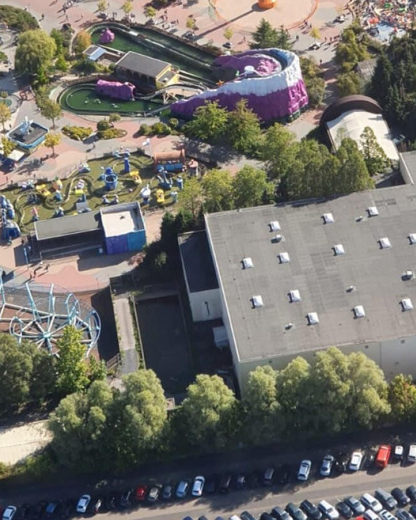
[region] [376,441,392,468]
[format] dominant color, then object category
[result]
red vehicle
